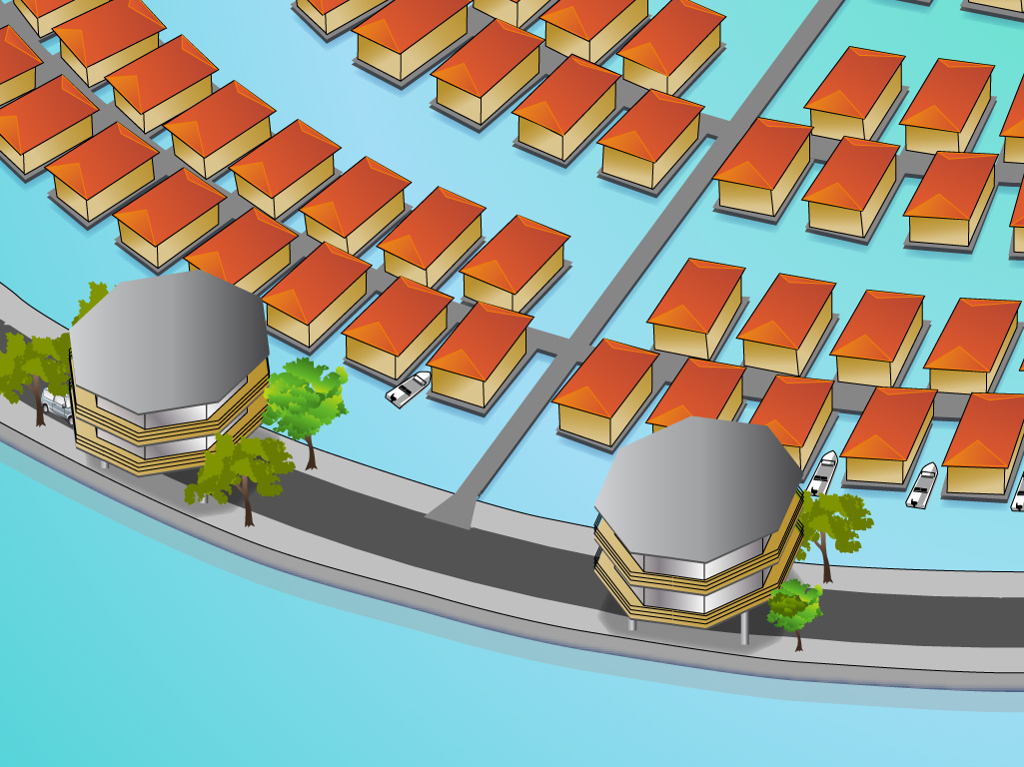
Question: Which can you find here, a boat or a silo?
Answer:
boat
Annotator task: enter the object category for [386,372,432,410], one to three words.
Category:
boat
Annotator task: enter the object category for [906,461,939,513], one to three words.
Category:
boat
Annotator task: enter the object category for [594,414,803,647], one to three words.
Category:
building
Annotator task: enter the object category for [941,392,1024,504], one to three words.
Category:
house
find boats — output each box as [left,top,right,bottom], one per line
[1010,475,1024,517]
[386,372,432,410]
[906,461,939,513]
[806,450,840,501]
